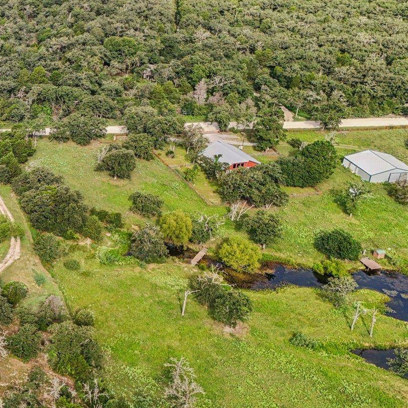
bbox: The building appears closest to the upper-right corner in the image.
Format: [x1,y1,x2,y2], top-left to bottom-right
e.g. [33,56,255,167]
[341,150,408,185]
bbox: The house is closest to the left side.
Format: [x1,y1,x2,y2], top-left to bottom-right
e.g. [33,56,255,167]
[199,144,258,175]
